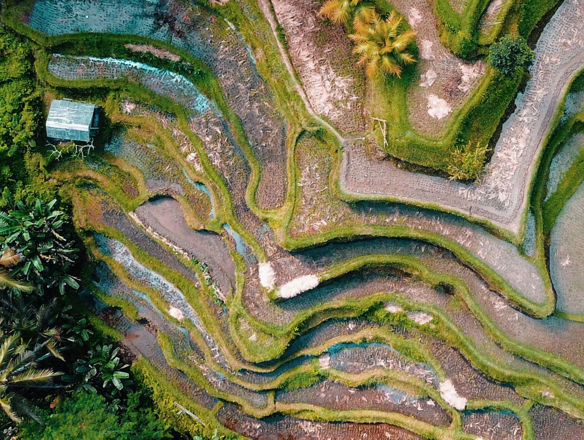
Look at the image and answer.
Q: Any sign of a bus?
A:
No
